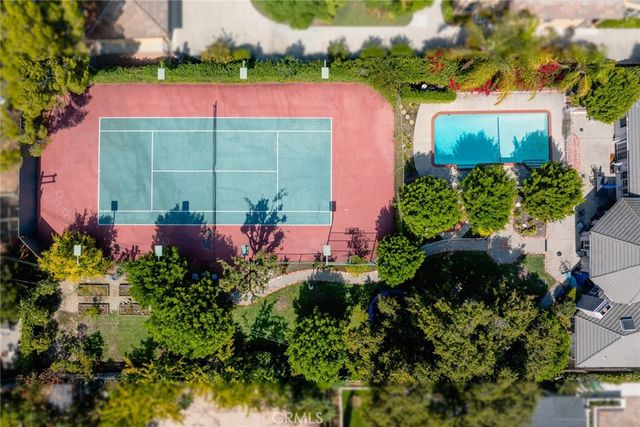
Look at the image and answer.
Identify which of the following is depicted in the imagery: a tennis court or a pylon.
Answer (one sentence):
I can see a tennis court in this picture.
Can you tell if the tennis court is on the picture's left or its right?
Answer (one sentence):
You can find the tennis court on the left side of the picture.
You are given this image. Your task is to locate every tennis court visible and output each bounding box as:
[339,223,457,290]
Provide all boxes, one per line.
[41,62,394,263]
